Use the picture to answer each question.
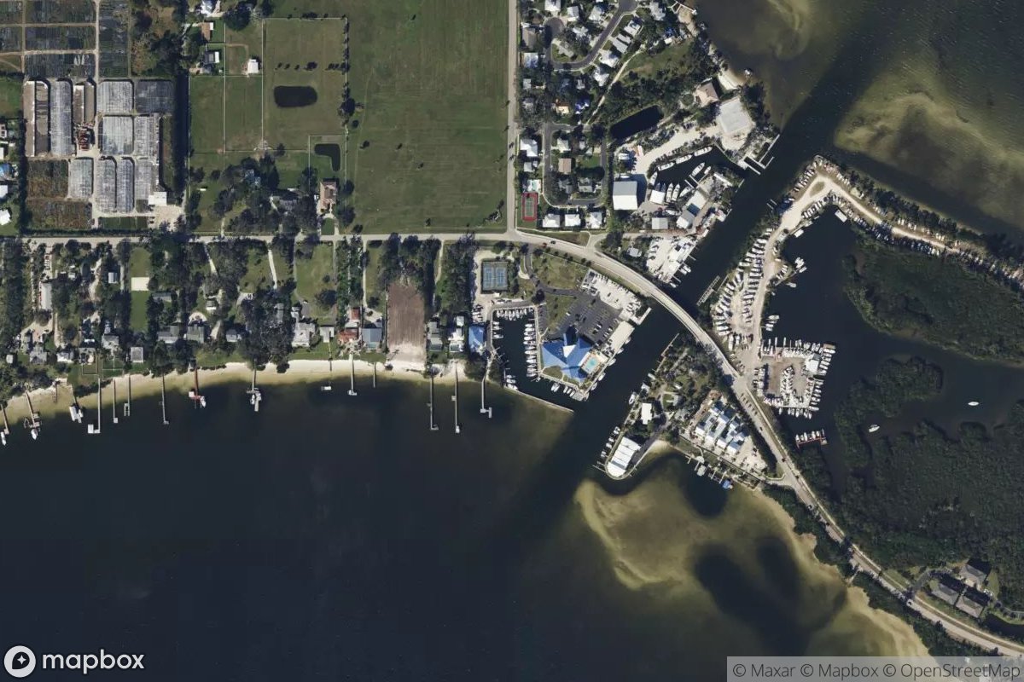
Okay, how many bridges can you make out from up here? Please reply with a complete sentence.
The picture shows just 1 bridge.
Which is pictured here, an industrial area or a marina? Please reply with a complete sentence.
This looks like a marina.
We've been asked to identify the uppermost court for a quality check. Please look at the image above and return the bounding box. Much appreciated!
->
[522,193,537,221]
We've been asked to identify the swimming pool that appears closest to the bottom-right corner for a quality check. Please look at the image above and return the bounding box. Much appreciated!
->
[585,351,604,375]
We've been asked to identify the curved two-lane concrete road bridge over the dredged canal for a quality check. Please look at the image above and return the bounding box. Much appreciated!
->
[633,272,715,346]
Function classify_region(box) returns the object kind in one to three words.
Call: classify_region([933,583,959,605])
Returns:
house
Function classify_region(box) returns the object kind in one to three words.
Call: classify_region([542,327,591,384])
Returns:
building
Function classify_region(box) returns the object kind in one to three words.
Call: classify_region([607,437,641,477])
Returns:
shed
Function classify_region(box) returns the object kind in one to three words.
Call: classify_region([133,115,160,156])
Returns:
greenhouse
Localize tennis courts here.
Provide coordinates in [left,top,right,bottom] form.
[522,193,537,221]
[483,263,495,292]
[495,263,507,292]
